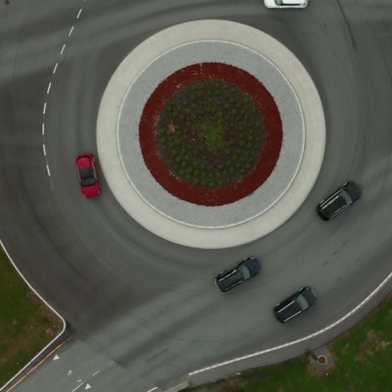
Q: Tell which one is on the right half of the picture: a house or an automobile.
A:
automobile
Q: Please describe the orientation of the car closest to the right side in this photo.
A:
at an angle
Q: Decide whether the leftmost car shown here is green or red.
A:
red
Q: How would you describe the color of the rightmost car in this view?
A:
black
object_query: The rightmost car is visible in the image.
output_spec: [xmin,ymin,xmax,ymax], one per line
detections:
[318,183,360,219]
